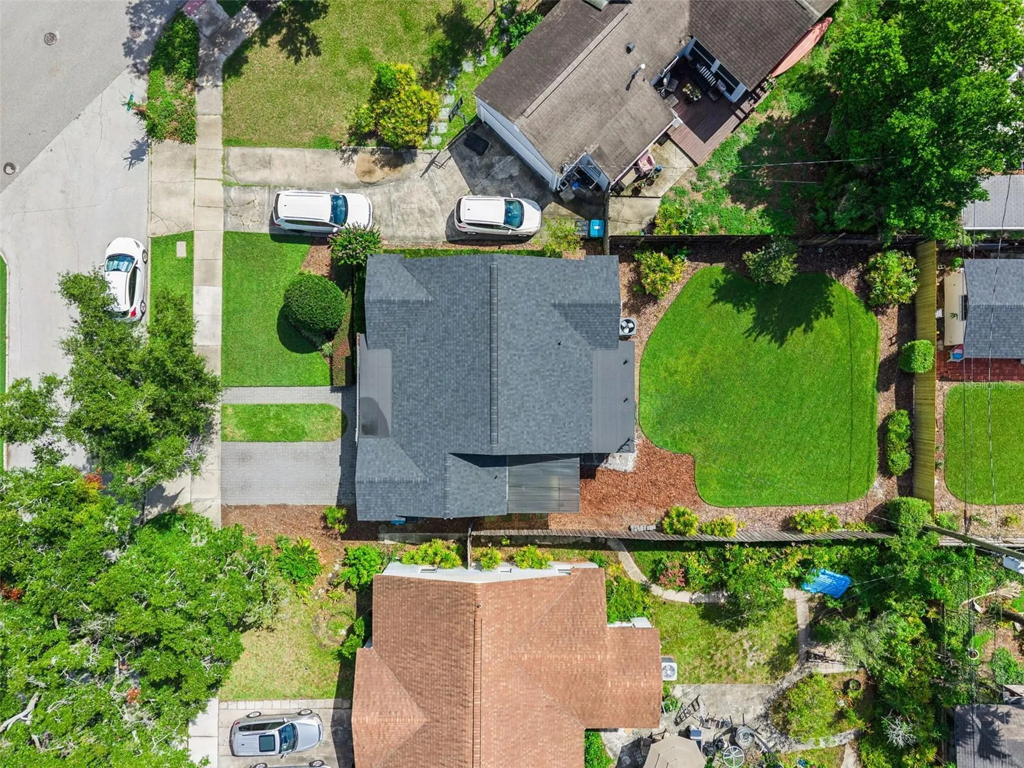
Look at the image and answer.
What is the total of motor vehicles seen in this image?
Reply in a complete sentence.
The number of motor vehicles here is 4.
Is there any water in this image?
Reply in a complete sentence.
No, no water is visible.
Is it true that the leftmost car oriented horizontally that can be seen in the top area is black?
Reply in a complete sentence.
No, the leftmost car oriented horizontally that can be seen in the top area is white.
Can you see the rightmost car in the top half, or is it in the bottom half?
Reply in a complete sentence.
It is in the top half that the rightmost car appears.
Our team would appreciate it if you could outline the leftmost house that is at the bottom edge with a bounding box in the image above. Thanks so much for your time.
[347,563,664,768]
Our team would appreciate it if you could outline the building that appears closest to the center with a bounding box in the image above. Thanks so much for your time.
[352,255,635,521]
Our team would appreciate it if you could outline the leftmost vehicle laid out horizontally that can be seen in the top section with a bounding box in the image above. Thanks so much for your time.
[275,186,375,232]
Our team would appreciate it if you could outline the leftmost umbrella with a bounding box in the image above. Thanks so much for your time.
[641,732,707,768]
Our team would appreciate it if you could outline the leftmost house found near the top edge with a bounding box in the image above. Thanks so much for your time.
[476,0,837,192]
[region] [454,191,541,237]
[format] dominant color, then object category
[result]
white car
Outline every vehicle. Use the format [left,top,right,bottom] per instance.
[454,191,541,237]
[275,186,375,232]
[98,238,148,322]
[230,712,324,763]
